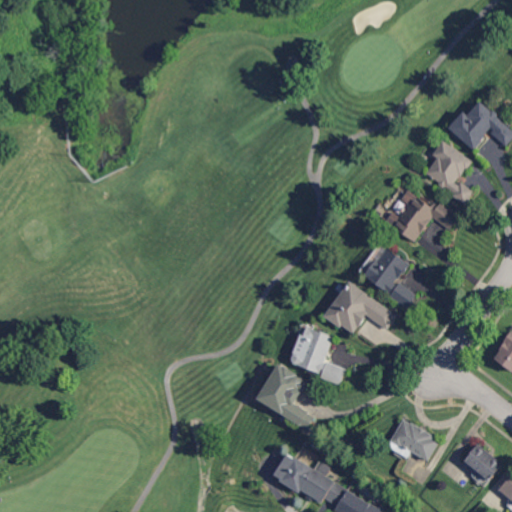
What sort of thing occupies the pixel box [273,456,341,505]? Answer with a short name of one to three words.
house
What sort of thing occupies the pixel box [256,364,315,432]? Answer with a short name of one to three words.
house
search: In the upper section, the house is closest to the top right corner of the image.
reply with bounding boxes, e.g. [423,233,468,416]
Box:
[450,102,512,148]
